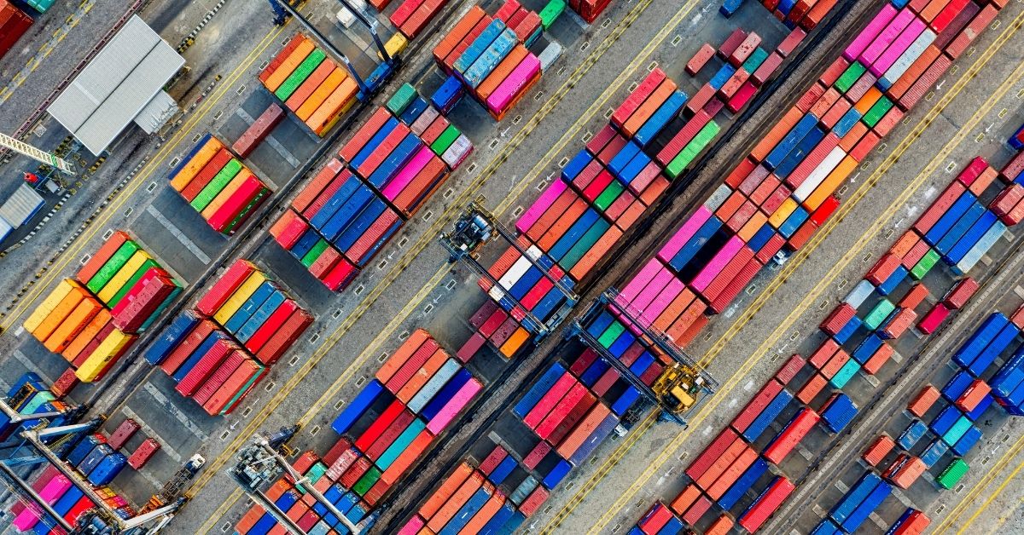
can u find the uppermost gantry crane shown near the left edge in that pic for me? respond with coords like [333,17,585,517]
[0,396,88,454]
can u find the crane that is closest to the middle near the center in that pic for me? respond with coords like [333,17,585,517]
[436,195,583,343]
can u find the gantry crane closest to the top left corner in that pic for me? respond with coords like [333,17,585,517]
[269,0,405,104]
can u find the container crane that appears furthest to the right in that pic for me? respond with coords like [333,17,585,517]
[564,284,721,429]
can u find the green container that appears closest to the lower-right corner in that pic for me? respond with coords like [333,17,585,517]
[934,458,969,490]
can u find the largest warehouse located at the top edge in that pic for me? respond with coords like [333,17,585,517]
[49,15,195,159]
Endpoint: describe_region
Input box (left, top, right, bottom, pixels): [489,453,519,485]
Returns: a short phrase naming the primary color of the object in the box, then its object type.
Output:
blue shipping container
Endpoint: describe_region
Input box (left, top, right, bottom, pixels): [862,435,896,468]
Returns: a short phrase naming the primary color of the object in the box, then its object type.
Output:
red shipping container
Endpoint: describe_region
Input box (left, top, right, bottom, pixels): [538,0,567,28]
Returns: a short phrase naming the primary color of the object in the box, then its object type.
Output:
green shipping container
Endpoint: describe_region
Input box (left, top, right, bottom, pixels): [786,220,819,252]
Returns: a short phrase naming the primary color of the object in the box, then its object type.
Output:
red shipping container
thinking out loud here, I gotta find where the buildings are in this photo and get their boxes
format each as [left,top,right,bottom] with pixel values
[49,15,195,159]
[0,182,47,231]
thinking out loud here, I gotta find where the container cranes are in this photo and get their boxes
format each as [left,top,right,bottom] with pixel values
[436,195,583,343]
[0,396,88,454]
[0,419,186,535]
[219,420,390,535]
[564,284,721,429]
[269,0,405,104]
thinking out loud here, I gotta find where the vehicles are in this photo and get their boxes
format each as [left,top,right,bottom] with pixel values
[127,452,208,535]
[612,396,654,441]
[774,243,795,264]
